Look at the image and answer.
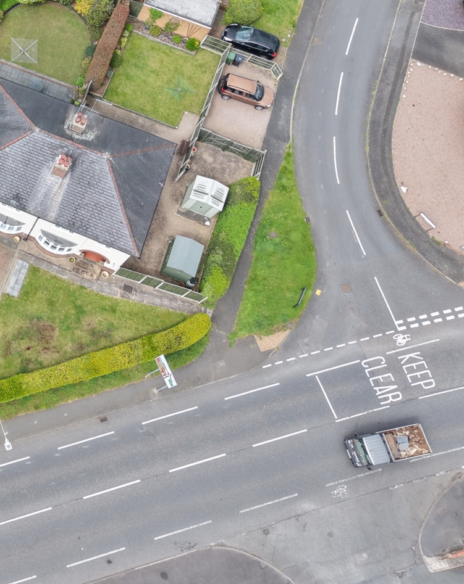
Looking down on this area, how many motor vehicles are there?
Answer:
3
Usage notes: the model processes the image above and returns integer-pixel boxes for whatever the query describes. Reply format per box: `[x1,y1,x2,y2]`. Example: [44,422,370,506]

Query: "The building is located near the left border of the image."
[0,75,178,271]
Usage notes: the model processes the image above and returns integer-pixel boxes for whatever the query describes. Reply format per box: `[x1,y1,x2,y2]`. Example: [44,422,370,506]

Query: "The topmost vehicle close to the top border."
[221,23,278,58]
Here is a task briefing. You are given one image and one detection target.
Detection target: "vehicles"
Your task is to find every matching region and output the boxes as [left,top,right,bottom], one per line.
[218,72,274,109]
[221,23,278,58]
[337,422,434,471]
